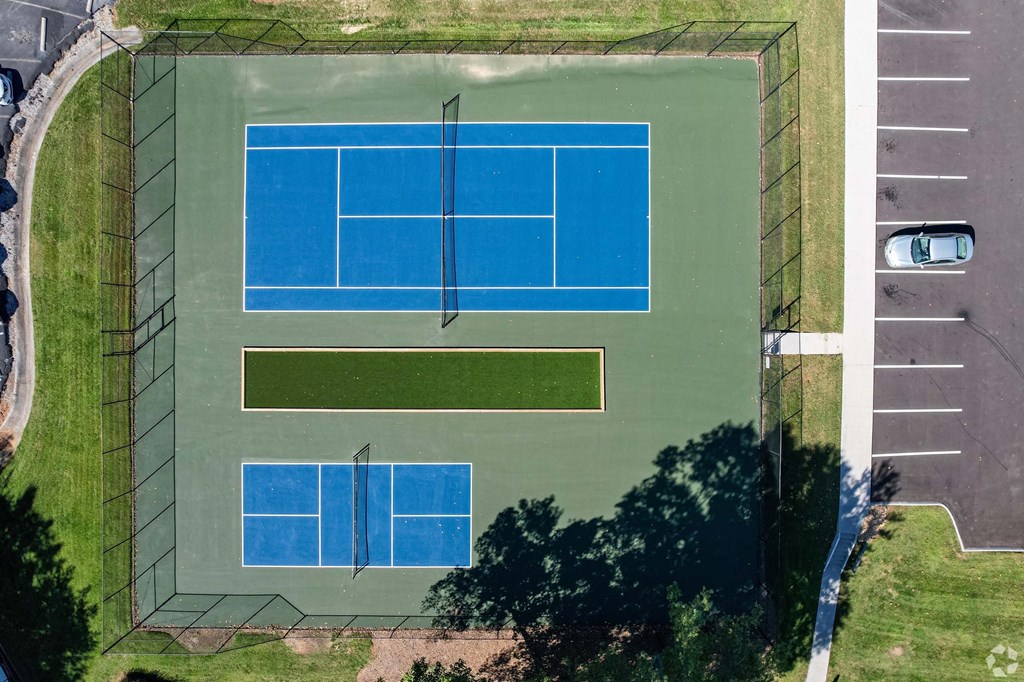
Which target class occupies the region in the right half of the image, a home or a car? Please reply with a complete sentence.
Looking in the right half of the image, you will find a car.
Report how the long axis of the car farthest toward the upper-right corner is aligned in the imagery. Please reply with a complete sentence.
In this picture, the car farthest toward the upper-right corner lies horizontally.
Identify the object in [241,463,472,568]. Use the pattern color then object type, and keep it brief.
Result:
blue sports court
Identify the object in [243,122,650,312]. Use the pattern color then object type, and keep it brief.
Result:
blue tennis court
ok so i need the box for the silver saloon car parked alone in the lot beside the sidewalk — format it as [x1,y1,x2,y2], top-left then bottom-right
[884,230,974,271]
